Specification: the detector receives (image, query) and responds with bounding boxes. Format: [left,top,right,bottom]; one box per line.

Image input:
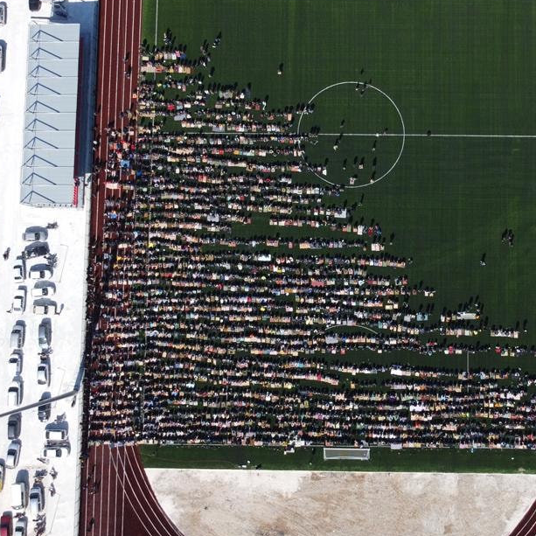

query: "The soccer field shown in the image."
[130,0,536,477]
